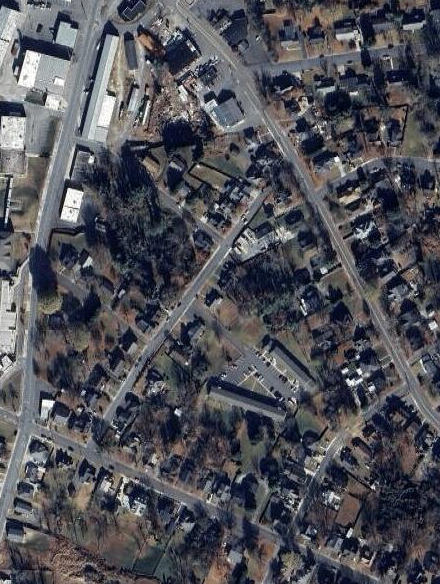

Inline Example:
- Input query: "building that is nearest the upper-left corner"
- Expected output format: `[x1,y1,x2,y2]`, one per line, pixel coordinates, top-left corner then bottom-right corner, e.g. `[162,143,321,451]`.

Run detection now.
[0,7,24,41]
